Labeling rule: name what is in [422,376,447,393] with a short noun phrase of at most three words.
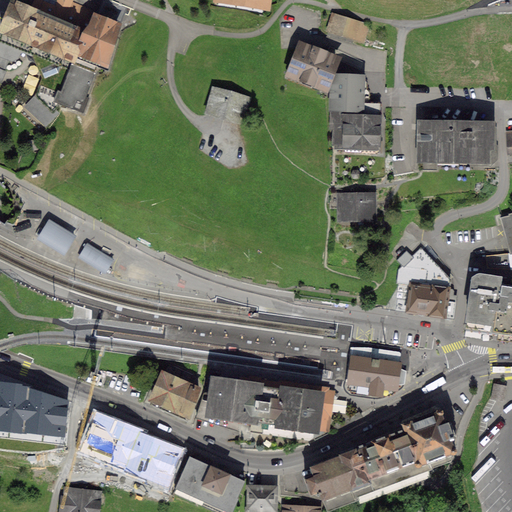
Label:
vehicle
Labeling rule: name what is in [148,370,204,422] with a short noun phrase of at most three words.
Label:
house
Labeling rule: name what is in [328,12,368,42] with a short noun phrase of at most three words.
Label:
barn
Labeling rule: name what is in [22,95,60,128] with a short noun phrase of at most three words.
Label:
building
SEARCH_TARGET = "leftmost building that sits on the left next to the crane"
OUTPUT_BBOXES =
[0,378,70,446]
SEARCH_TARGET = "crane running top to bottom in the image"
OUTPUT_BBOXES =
[60,346,106,508]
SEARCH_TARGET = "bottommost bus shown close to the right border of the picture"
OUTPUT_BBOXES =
[471,456,496,482]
